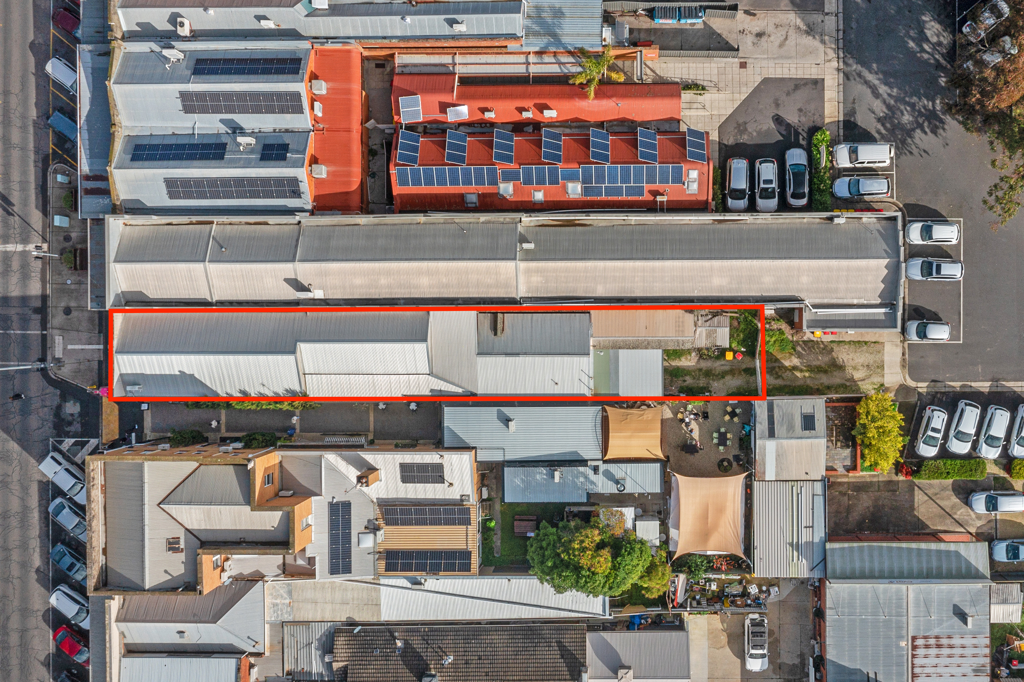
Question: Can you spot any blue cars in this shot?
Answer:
Yes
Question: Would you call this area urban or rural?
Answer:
urban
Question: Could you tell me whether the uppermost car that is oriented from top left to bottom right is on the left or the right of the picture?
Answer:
left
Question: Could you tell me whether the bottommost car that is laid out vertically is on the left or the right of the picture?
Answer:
right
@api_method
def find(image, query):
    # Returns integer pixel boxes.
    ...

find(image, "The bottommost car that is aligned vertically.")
[745,616,774,677]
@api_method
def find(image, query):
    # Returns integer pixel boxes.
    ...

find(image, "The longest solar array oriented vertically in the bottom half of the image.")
[328,503,351,576]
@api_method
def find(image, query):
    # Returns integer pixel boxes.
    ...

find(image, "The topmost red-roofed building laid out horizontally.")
[393,74,683,132]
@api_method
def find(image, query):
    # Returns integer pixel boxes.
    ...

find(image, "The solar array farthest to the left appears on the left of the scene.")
[130,141,227,159]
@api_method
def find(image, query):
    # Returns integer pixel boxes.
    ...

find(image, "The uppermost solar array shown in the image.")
[192,56,301,73]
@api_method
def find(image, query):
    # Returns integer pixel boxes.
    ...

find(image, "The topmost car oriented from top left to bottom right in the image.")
[44,2,97,44]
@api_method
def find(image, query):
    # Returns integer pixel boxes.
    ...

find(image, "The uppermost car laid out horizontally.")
[835,140,902,168]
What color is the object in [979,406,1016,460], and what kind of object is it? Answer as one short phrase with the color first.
white car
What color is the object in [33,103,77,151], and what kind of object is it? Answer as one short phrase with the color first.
blue car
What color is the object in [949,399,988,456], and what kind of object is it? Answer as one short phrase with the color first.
white car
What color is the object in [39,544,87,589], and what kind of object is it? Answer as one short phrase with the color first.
blue car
